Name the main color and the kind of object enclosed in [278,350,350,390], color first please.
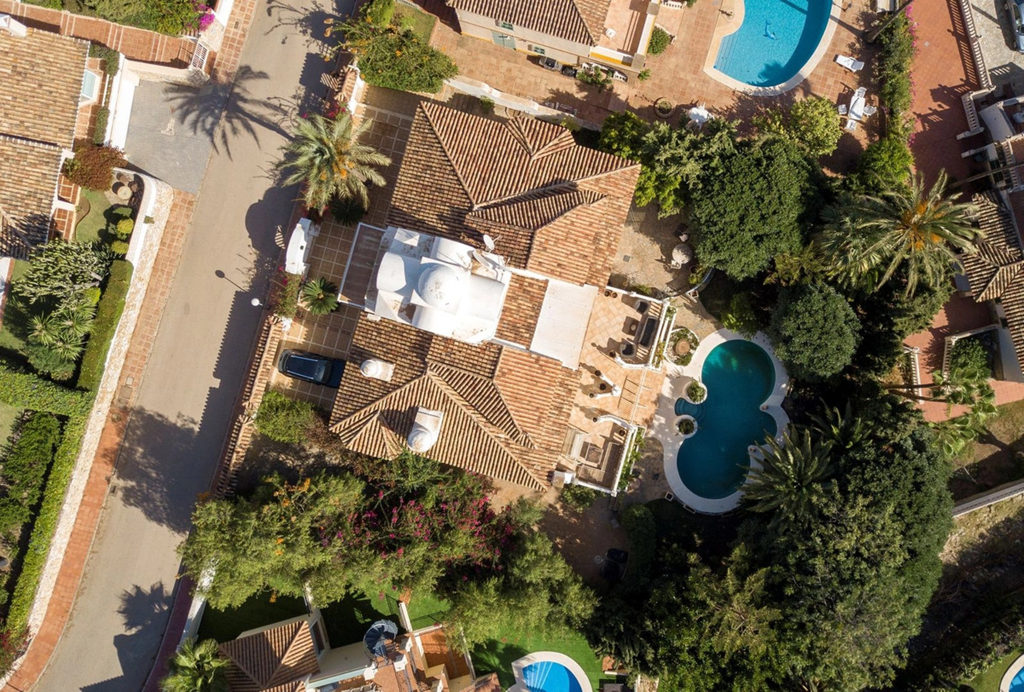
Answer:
black car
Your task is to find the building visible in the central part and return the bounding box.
[328,101,642,492]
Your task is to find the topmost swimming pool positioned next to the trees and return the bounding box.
[714,0,836,85]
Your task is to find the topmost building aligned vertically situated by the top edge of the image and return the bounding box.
[0,12,112,259]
